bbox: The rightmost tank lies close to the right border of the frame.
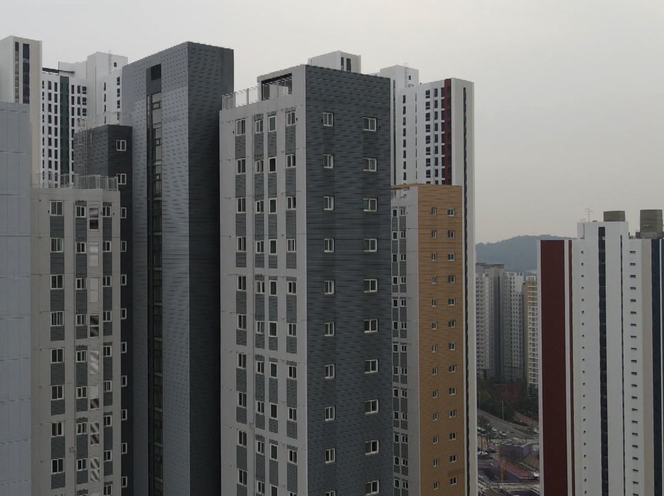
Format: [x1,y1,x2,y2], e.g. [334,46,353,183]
[639,210,664,235]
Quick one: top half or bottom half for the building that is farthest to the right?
bottom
